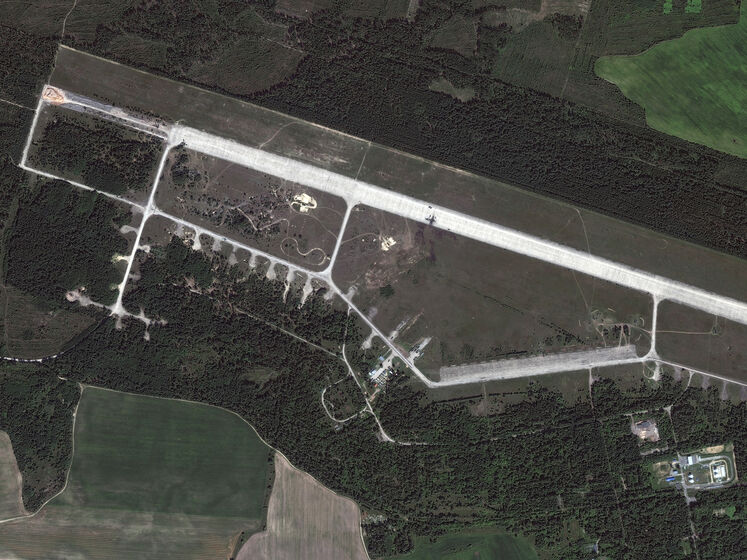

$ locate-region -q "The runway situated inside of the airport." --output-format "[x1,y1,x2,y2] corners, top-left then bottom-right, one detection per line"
[171,125,747,324]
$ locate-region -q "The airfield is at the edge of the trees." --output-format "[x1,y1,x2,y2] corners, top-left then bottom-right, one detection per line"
[20,91,747,400]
